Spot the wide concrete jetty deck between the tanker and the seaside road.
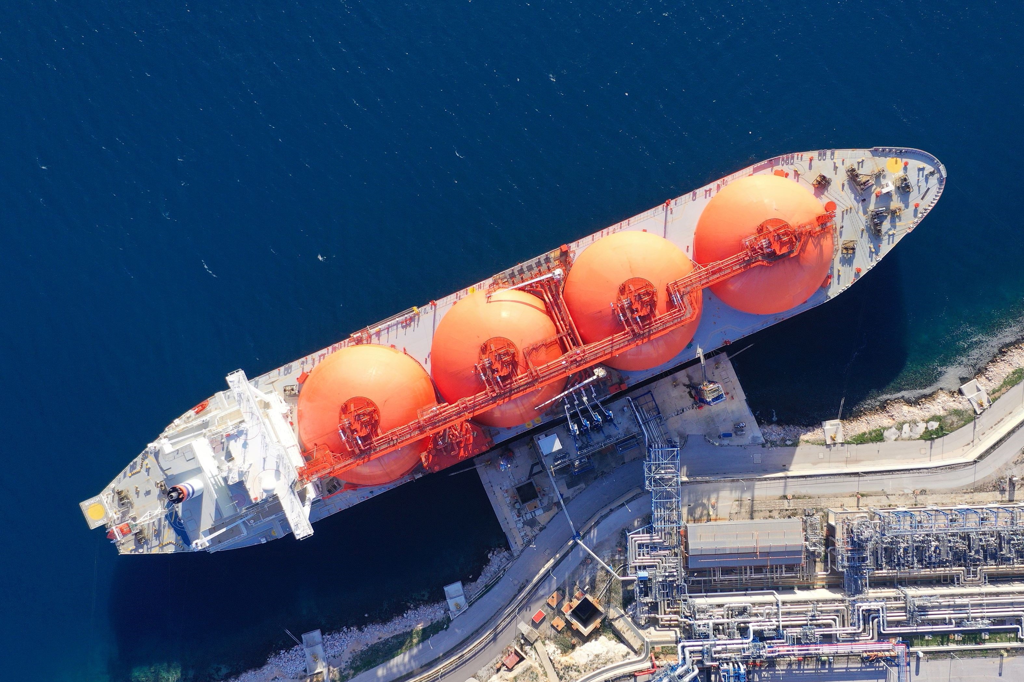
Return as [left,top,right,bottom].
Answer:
[474,348,765,557]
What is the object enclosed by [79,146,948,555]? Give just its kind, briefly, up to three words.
ship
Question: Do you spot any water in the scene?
Yes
